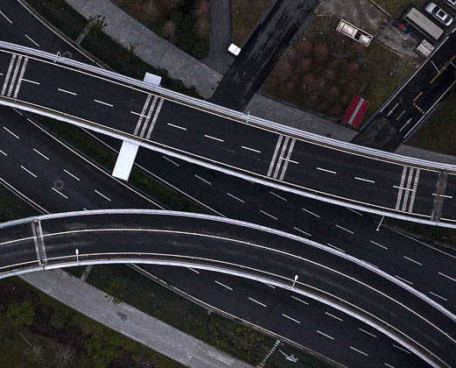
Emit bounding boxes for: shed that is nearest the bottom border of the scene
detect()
[342,96,369,126]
